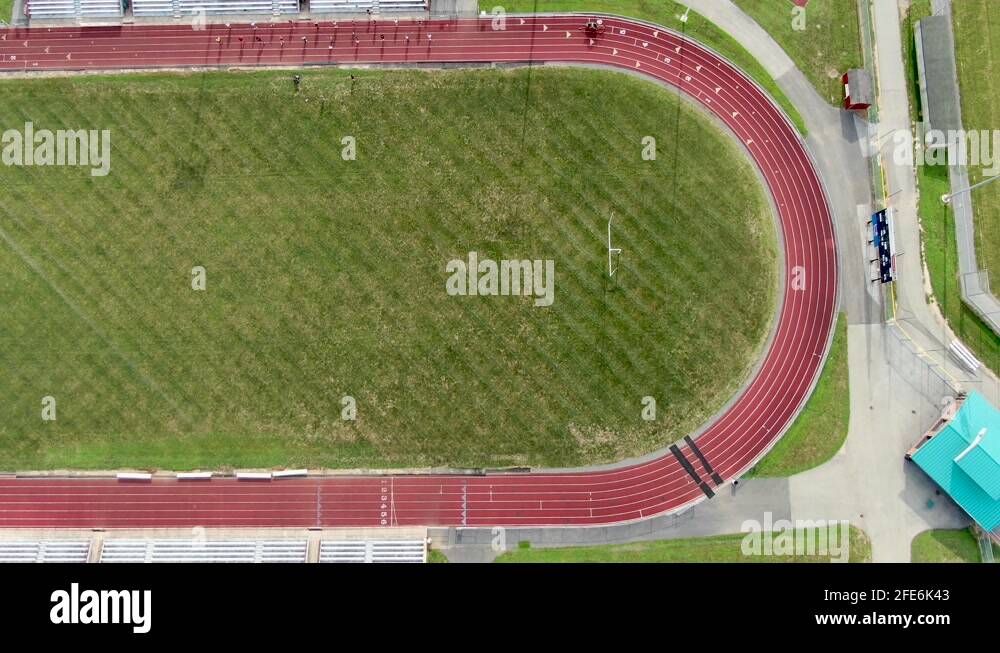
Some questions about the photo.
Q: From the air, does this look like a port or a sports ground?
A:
sports ground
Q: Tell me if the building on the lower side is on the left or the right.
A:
right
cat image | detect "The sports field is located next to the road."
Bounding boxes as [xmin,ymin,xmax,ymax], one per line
[0,67,778,469]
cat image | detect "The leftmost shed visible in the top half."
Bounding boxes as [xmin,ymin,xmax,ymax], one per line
[842,66,874,109]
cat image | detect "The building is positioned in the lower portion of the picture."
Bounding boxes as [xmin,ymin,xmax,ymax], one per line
[907,390,1000,530]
